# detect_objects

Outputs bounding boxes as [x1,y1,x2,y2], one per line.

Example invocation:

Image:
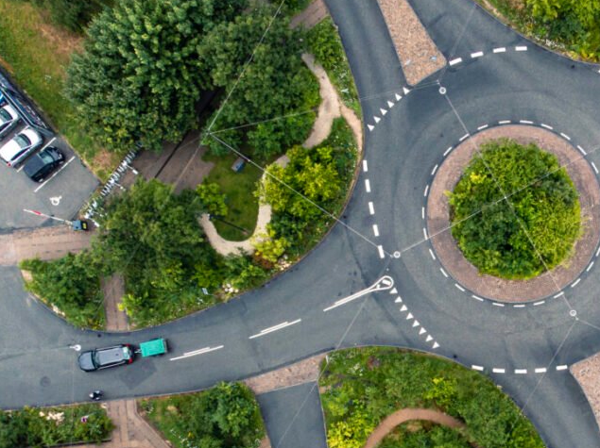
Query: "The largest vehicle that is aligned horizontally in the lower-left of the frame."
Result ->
[80,344,135,371]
